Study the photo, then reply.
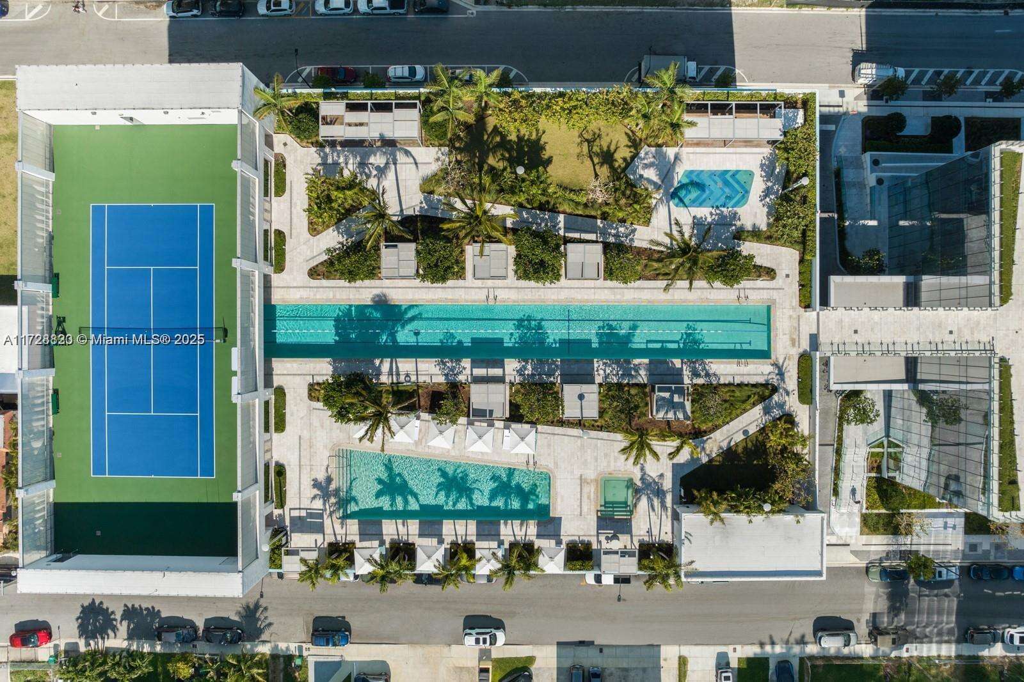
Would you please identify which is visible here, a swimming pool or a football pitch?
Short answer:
swimming pool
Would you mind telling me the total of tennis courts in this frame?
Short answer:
1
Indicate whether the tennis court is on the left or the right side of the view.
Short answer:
left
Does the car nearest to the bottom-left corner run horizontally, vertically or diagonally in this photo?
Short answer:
horizontally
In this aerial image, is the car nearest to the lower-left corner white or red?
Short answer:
red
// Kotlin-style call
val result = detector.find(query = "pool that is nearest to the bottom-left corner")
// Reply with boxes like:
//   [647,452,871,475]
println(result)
[333,444,555,524]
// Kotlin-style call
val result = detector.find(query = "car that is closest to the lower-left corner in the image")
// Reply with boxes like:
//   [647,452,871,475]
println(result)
[10,626,54,649]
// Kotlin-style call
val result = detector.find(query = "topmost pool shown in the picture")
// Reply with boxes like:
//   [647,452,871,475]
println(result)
[672,170,753,207]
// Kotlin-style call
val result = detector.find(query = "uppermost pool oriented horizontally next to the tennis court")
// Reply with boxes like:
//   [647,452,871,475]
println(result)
[263,298,776,362]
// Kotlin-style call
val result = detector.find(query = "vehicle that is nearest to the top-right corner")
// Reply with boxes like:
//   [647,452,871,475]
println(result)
[853,60,903,85]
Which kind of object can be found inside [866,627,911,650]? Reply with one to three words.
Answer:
car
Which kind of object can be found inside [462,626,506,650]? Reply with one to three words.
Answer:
car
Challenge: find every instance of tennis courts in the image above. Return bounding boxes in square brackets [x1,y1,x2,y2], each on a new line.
[53,126,247,556]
